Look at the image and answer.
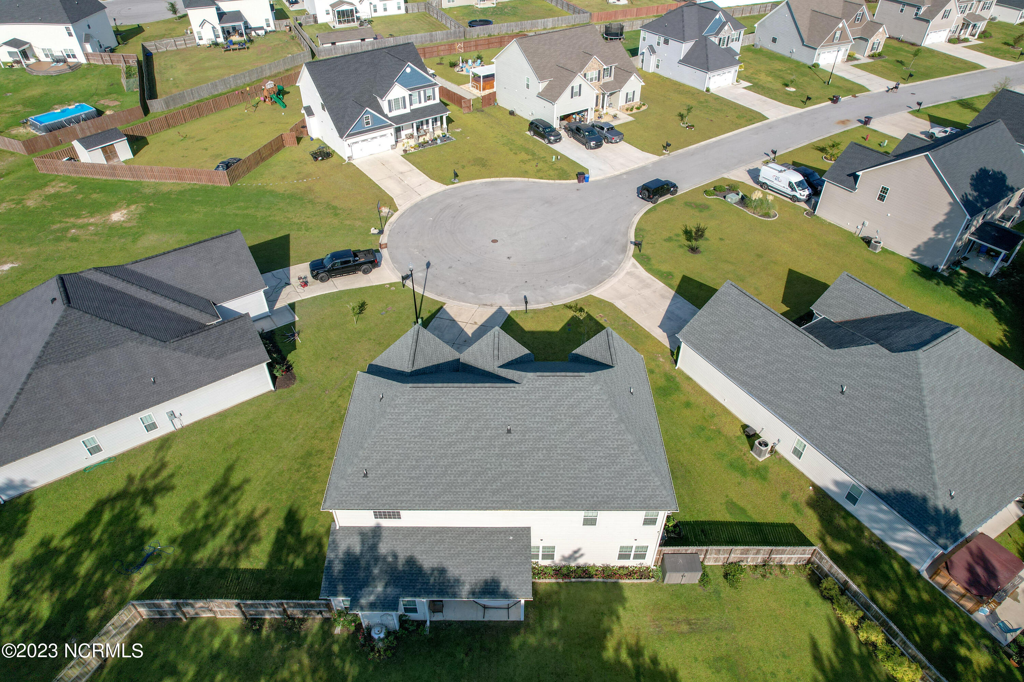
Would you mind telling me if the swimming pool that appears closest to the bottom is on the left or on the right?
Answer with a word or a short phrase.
left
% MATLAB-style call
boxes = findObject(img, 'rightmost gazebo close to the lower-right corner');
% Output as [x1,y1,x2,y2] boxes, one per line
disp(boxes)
[924,533,1024,619]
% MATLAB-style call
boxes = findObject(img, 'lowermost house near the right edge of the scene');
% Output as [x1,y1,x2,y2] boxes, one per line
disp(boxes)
[669,270,1024,573]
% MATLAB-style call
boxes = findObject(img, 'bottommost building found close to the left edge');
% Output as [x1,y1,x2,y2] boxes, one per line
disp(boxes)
[0,229,281,505]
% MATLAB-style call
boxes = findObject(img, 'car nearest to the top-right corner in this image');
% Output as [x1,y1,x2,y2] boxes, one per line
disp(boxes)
[921,121,949,140]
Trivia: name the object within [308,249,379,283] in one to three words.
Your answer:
truck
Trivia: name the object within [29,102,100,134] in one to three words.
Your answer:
swimming pool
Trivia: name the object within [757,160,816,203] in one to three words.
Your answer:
van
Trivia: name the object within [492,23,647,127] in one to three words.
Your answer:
house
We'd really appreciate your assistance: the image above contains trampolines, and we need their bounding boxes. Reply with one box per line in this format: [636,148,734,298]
[603,23,626,43]
[468,19,493,28]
